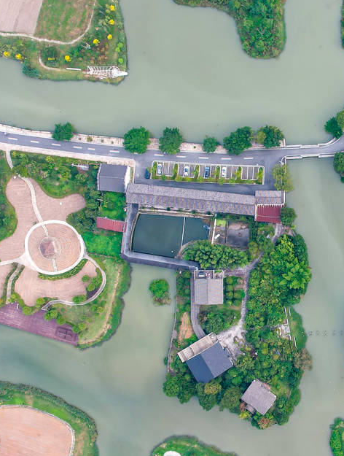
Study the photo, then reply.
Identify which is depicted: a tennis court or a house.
house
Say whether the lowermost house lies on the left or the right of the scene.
right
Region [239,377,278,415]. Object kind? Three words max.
house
